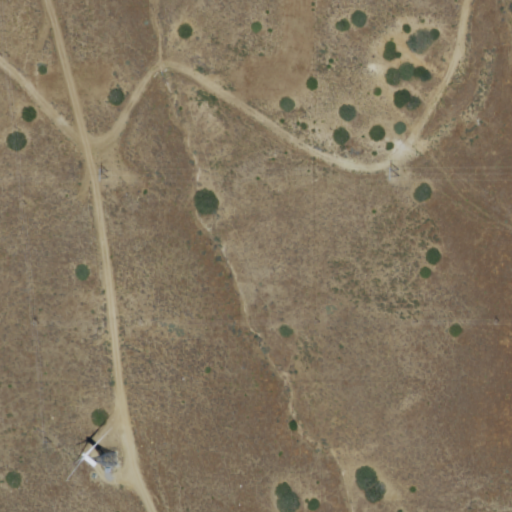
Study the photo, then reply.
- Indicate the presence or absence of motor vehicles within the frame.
No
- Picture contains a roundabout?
No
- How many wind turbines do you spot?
one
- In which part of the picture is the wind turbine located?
bottom left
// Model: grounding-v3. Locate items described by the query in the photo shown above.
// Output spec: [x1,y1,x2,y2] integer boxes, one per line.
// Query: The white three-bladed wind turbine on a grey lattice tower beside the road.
[69,430,118,484]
